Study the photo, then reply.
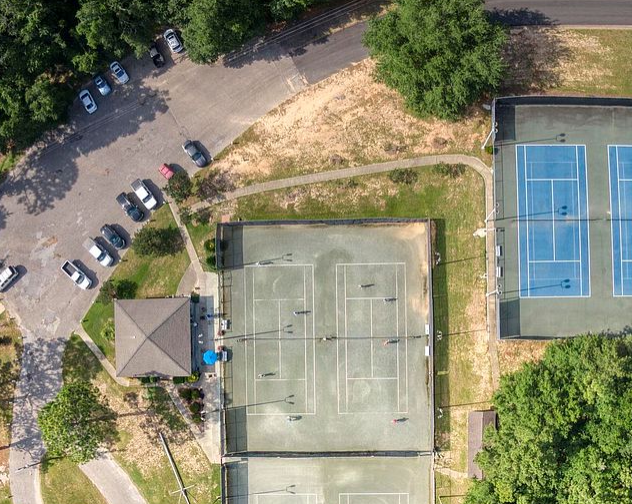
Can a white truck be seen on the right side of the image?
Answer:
No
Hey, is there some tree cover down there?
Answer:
Yes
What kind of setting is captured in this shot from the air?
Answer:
sports ground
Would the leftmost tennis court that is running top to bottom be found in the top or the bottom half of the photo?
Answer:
bottom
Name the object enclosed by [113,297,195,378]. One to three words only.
building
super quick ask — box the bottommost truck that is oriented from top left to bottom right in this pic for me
[56,257,91,291]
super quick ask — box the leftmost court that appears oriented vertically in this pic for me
[222,223,328,455]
